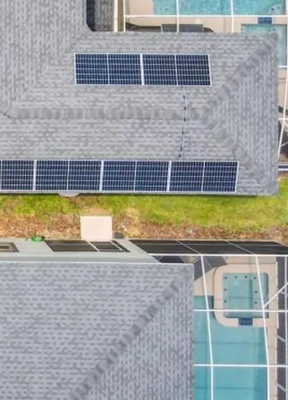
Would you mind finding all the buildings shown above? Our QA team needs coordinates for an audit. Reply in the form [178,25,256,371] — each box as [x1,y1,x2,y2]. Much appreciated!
[0,236,196,400]
[0,0,278,195]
